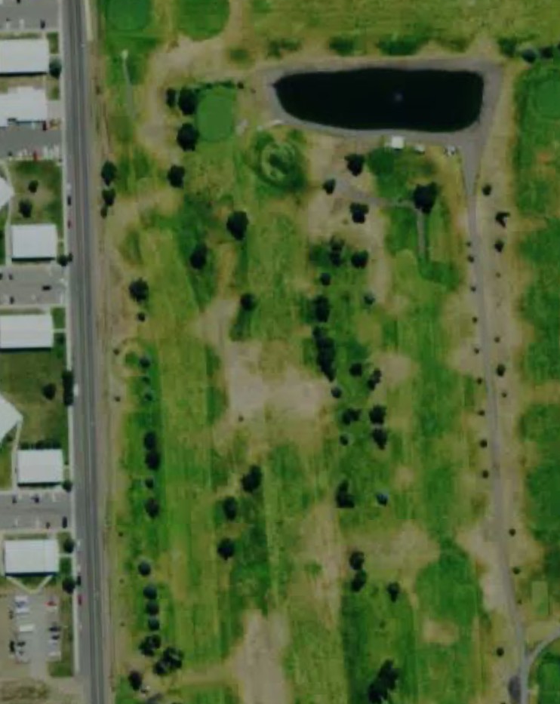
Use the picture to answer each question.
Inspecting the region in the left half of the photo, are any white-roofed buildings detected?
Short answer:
Yes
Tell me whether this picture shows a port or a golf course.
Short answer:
golf course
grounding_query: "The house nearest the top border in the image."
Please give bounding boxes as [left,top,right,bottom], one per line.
[0,38,47,71]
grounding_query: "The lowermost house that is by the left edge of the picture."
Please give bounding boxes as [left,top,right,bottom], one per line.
[5,539,58,573]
